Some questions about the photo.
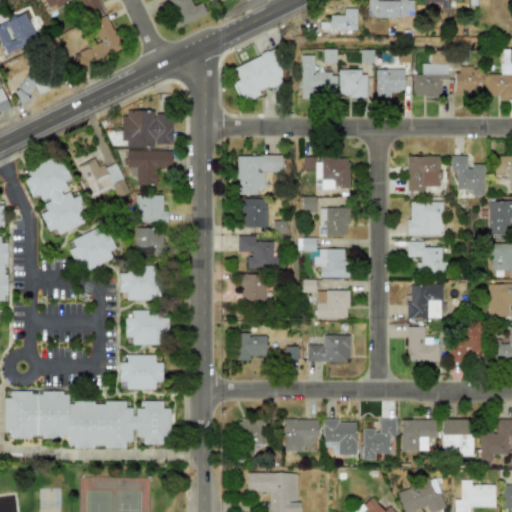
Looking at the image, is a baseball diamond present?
No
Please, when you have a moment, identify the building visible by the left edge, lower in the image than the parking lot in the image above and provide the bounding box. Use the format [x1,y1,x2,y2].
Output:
[4,392,133,448]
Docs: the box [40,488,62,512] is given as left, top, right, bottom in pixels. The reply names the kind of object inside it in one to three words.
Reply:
basketball court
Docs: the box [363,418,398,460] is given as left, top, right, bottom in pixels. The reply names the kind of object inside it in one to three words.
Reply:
house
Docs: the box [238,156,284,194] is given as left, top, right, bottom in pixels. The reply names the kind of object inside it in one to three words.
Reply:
house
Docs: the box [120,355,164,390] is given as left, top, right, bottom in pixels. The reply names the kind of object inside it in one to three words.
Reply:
building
